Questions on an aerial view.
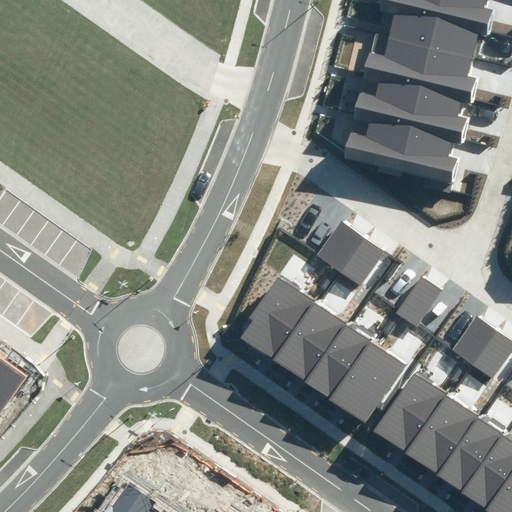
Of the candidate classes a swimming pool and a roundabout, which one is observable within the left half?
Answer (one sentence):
Visible within the left half is a roundabout.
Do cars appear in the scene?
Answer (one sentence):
Yes, you can see a car in this photo.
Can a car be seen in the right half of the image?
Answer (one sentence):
Yes, I can see a car in the right half of the image.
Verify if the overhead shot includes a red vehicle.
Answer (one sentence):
No, no red vehicle is visible in the scene.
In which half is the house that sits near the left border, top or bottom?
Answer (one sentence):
The bottom half of the photo is where the house that sits near the left border is.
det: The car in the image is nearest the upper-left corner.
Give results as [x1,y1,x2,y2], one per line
[190,172,211,202]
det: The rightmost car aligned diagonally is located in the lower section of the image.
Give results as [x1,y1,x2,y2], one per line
[444,311,470,343]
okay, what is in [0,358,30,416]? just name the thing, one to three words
house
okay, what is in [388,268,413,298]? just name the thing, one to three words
car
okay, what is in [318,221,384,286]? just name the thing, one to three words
building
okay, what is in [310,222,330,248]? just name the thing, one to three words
car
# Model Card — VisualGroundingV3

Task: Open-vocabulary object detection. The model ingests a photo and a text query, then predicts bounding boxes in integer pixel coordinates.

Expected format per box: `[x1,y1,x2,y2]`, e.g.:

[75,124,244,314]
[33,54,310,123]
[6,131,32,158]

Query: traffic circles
[90,297,192,401]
